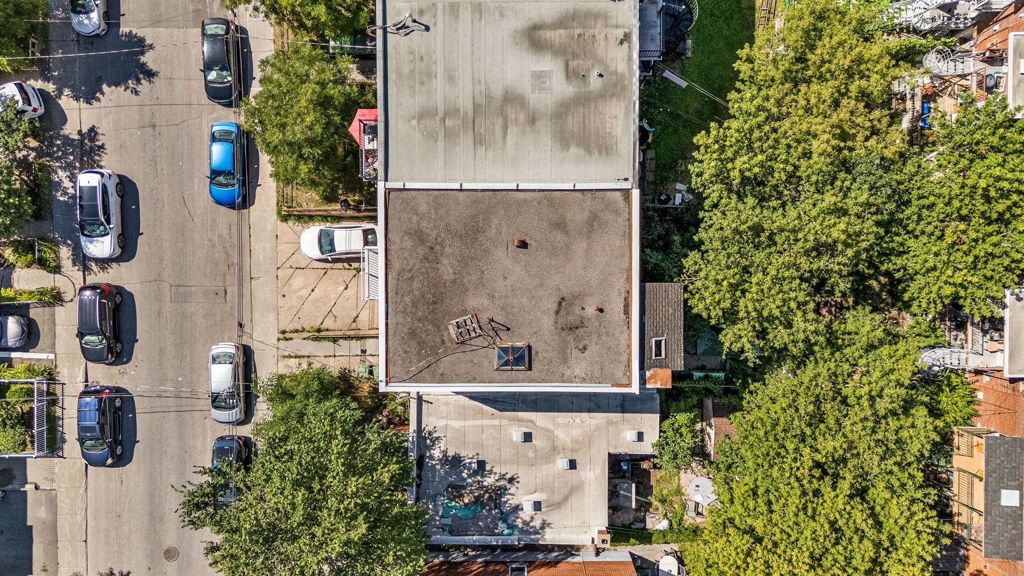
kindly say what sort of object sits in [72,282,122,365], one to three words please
car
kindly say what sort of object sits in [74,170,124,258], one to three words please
car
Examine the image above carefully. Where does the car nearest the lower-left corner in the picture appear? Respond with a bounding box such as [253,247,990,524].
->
[72,385,122,467]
